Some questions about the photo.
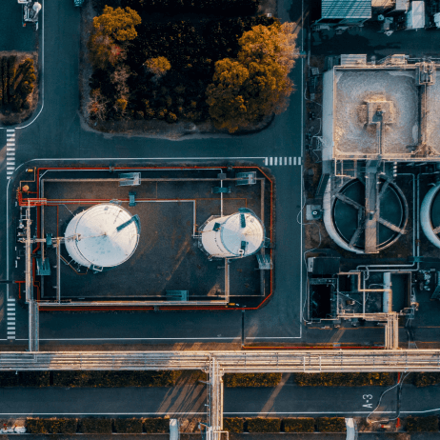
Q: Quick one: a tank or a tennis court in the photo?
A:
tank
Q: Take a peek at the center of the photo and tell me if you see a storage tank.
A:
Yes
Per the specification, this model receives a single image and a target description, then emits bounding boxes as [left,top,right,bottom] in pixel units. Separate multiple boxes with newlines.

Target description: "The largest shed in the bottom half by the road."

[308,257,341,275]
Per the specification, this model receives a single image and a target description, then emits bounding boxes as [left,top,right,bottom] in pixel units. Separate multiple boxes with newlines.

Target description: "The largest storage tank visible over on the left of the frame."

[63,202,142,272]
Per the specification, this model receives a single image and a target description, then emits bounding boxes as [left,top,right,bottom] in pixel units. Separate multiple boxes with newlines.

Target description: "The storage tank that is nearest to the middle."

[200,205,266,262]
